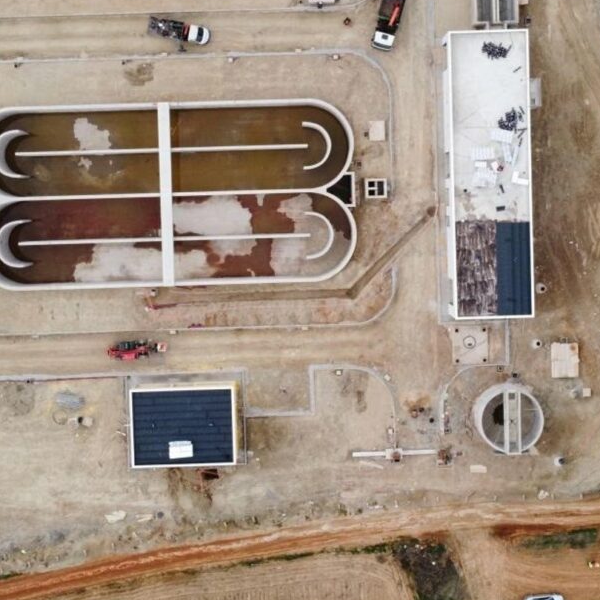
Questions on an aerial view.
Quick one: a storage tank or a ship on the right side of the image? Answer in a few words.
storage tank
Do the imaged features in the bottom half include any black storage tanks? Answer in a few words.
No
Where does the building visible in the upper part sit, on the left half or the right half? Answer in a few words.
right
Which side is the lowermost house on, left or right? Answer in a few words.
left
